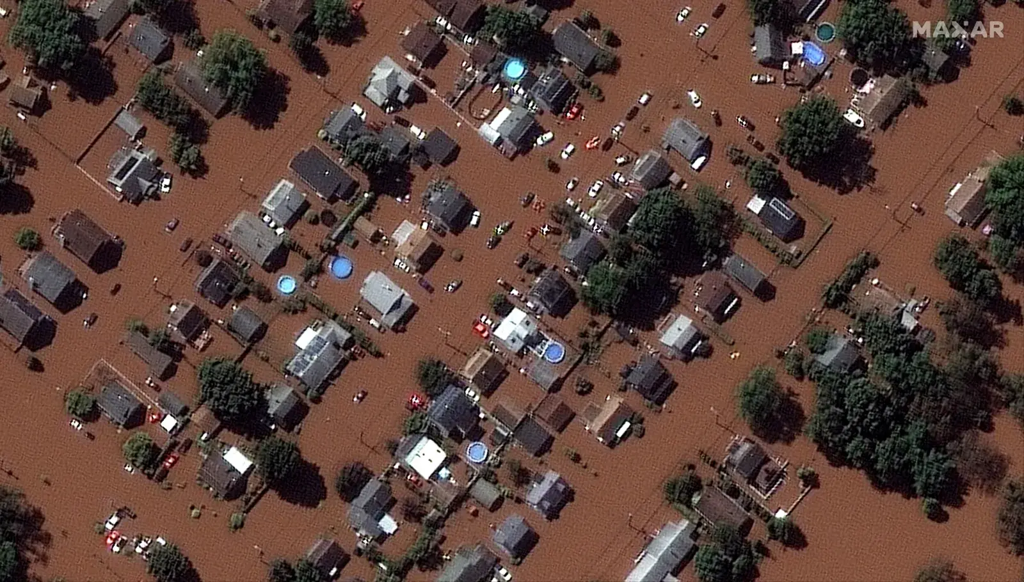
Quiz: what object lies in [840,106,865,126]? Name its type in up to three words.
boat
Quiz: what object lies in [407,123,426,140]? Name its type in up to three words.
vehicle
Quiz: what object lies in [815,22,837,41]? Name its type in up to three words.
swimming pool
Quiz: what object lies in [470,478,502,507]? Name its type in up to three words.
building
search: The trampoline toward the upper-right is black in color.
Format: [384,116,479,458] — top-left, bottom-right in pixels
[851,70,868,86]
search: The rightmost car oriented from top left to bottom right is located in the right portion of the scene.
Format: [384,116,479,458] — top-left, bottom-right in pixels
[907,200,926,216]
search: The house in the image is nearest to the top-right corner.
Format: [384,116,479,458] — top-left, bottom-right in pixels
[923,48,951,71]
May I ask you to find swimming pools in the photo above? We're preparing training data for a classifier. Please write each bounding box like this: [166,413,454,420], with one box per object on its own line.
[330,257,354,278]
[544,341,564,362]
[466,442,489,462]
[802,43,826,64]
[277,275,298,294]
[815,22,837,41]
[503,58,526,79]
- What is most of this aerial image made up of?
water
